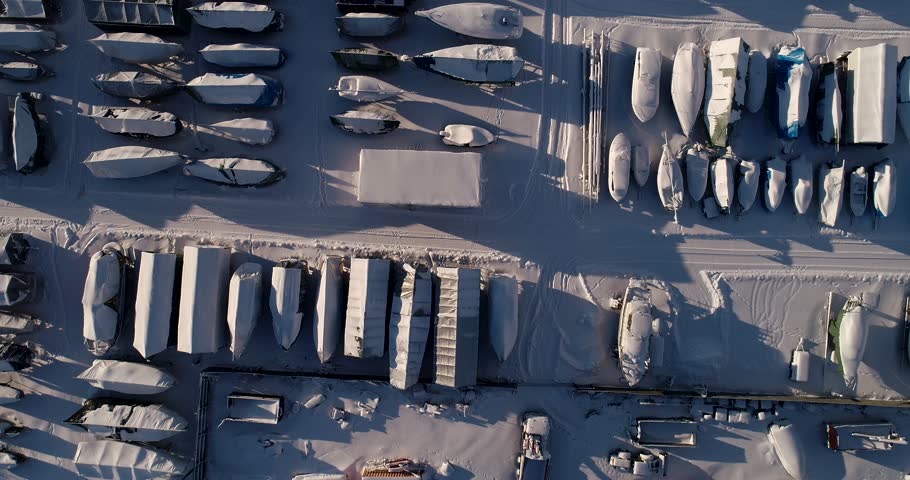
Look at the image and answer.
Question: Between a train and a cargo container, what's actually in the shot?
cargo container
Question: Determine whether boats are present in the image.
Yes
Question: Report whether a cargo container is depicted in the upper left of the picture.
No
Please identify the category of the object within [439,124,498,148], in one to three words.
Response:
boat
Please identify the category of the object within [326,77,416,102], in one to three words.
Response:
boat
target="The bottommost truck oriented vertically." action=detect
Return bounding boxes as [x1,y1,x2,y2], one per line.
[516,415,552,480]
